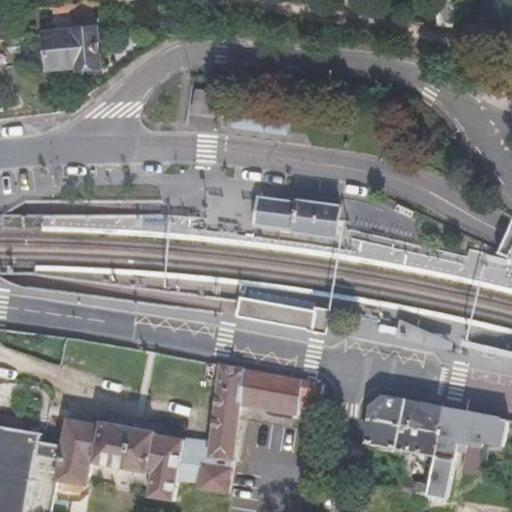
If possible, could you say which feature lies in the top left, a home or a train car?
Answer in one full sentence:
The one visible in the top left is a home.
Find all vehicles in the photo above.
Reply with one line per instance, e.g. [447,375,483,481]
[282,429,294,452]
[168,402,192,415]
[1,175,12,196]
[242,170,262,182]
[2,126,24,138]
[258,424,268,447]
[234,476,256,488]
[343,184,367,197]
[65,166,88,177]
[143,164,162,174]
[20,173,30,194]
[234,488,256,500]
[0,369,21,380]
[264,174,285,185]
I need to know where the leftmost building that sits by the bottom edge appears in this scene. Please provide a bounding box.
[0,427,47,512]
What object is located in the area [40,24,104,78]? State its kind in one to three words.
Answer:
house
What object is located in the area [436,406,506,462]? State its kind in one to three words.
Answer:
building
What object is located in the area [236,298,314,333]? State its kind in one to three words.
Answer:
building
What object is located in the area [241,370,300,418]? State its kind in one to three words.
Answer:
house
